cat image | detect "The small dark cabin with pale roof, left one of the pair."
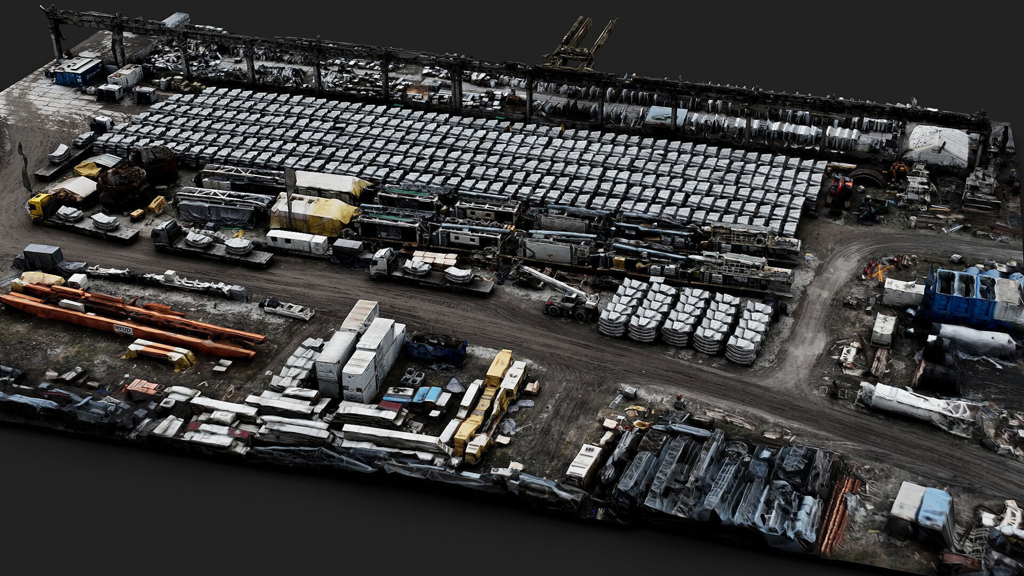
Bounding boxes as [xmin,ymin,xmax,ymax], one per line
[98,81,128,104]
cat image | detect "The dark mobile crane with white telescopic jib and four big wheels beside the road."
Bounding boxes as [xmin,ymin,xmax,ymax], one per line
[520,263,603,322]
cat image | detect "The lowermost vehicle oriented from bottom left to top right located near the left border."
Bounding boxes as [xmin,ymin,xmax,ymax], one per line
[31,117,105,175]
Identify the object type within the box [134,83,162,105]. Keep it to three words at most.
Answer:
building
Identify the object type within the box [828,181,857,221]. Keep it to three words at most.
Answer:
work vehicle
